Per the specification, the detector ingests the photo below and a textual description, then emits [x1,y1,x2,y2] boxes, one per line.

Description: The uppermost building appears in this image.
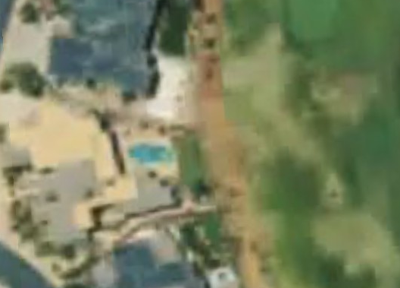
[47,0,157,97]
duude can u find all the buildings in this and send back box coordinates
[112,238,207,288]
[5,100,178,241]
[47,0,157,97]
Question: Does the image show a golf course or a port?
golf course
